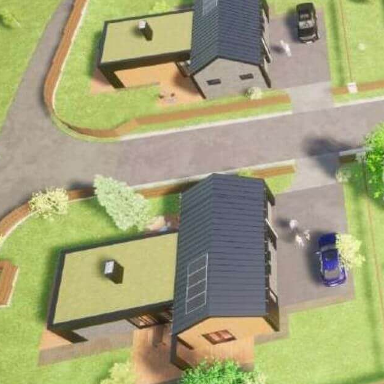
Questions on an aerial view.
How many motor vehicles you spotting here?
2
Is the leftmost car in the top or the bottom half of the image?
top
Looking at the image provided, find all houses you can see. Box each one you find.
[85,0,275,106]
[37,171,290,384]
